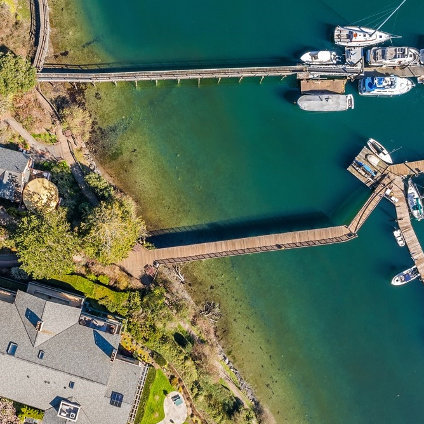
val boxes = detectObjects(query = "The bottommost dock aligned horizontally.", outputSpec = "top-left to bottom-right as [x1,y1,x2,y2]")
[116,227,358,285]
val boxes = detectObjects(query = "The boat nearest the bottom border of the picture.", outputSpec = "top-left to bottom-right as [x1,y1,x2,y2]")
[393,268,423,283]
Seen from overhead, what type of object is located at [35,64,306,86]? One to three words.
pier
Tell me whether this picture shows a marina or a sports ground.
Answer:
marina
